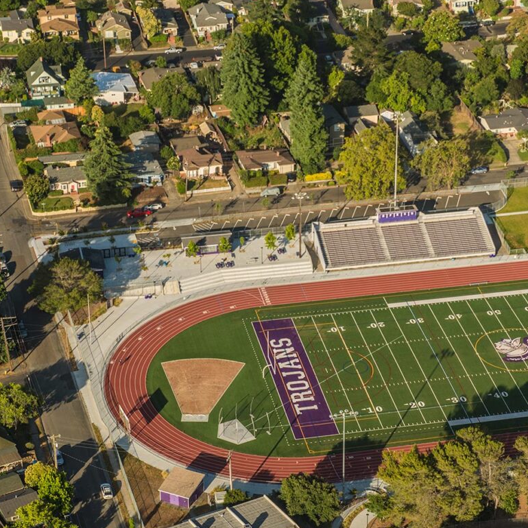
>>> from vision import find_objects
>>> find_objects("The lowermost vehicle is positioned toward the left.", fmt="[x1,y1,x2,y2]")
[100,482,114,499]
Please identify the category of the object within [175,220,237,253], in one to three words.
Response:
shed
